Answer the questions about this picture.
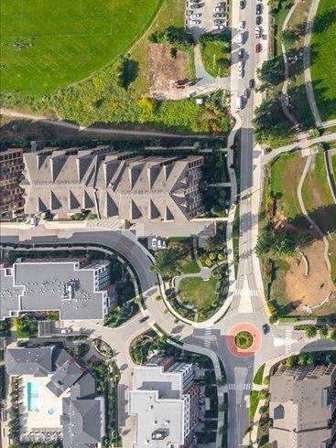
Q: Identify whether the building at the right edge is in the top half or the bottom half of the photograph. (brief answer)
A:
bottom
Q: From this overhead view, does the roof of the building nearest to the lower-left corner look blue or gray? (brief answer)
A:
gray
